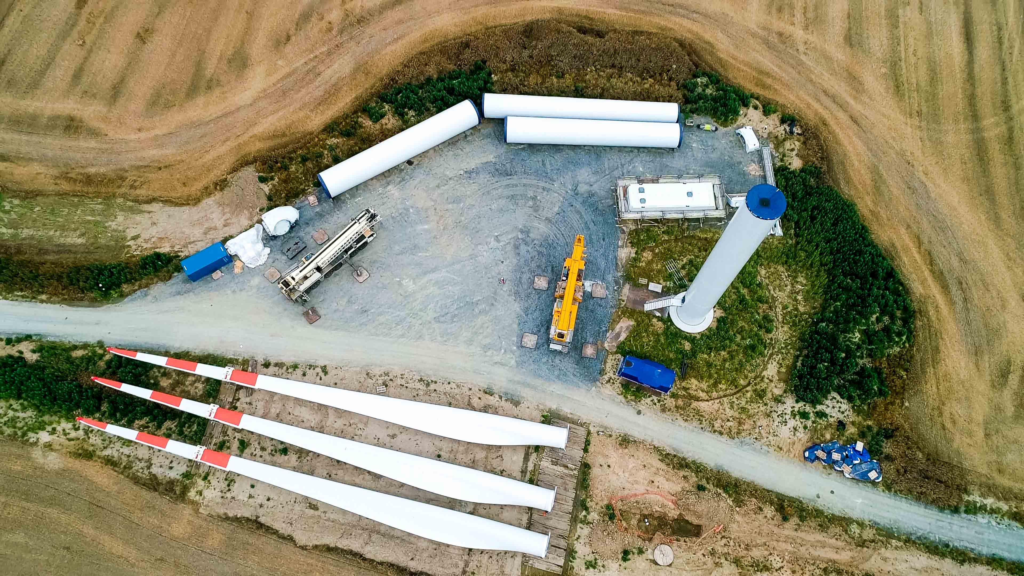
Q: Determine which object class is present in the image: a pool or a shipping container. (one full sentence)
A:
The image shows a shipping container.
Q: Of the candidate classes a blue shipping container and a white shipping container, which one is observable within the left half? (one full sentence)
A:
Visible within the left half is a blue shipping container.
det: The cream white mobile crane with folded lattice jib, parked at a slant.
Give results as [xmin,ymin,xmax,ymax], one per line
[275,210,383,317]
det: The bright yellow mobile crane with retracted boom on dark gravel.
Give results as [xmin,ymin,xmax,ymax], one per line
[549,233,587,355]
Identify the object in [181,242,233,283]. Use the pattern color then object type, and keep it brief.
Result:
blue shipping container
